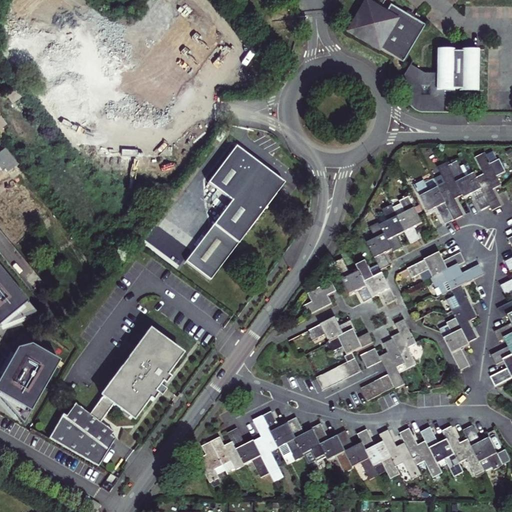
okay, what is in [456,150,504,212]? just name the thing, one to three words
house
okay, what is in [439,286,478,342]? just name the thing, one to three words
house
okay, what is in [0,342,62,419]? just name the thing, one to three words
building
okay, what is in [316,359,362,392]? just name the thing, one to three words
building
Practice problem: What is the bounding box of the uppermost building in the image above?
[346,0,426,63]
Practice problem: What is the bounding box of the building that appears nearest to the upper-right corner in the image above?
[438,46,480,92]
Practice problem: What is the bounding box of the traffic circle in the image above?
[256,18,440,212]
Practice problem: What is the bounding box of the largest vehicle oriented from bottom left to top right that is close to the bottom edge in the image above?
[102,471,118,488]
